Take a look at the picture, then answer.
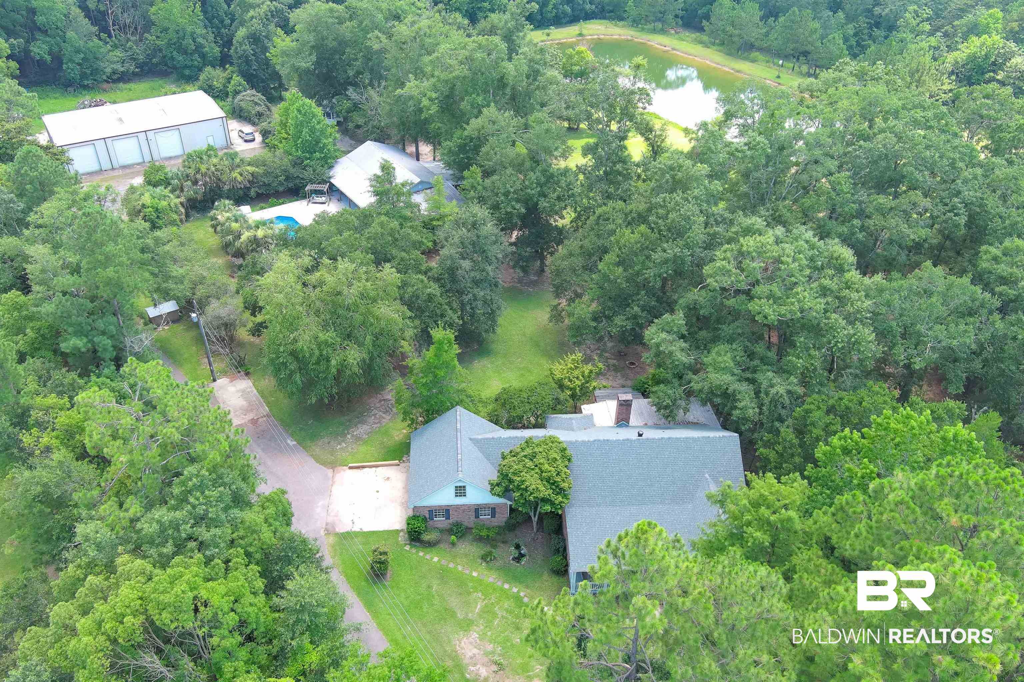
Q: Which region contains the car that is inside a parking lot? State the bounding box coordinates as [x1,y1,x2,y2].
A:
[237,128,253,143]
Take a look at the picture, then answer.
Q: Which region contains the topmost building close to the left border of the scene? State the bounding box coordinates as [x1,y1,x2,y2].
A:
[41,88,231,178]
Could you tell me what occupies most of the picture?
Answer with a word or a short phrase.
trees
